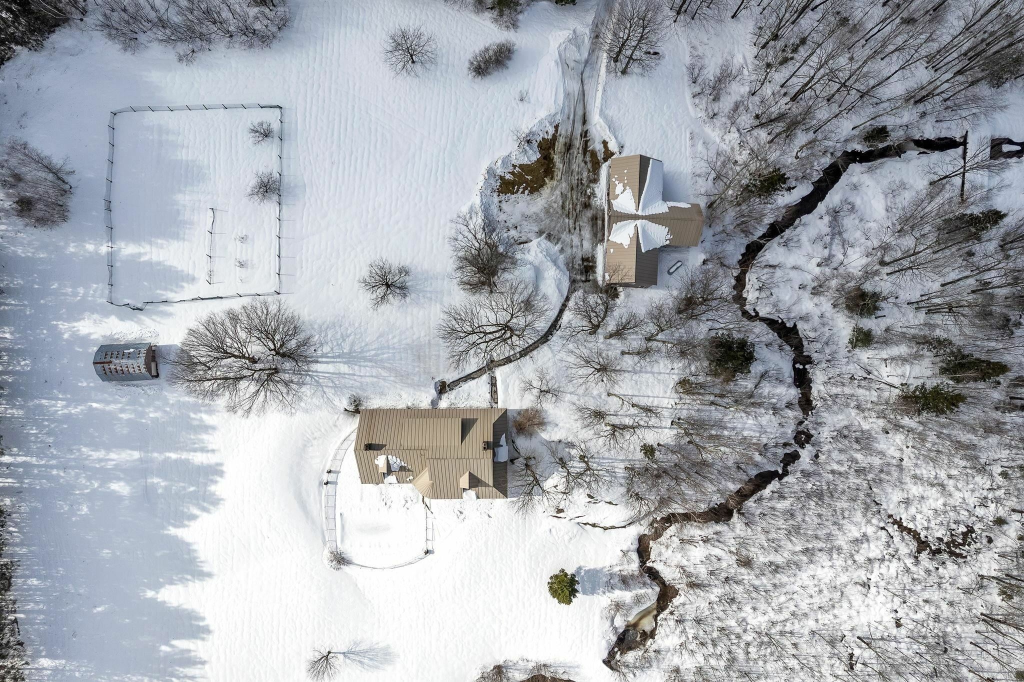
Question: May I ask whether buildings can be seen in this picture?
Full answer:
Yes, the image includes a building.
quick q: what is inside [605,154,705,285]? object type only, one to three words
barn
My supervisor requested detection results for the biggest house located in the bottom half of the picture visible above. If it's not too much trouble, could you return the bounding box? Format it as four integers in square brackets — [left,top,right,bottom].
[354,409,508,499]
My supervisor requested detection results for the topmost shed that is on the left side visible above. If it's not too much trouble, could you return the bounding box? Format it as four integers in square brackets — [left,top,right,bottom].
[92,342,158,381]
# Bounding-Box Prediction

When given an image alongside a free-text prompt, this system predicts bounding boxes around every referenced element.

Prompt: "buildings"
[354,409,508,499]
[605,154,705,285]
[92,342,158,381]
